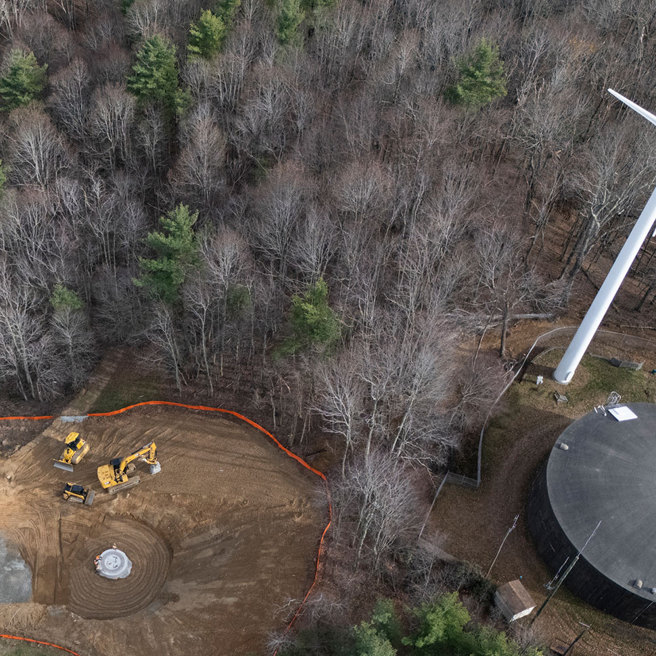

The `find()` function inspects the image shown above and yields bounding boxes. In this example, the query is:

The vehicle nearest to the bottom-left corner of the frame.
[61,480,95,507]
